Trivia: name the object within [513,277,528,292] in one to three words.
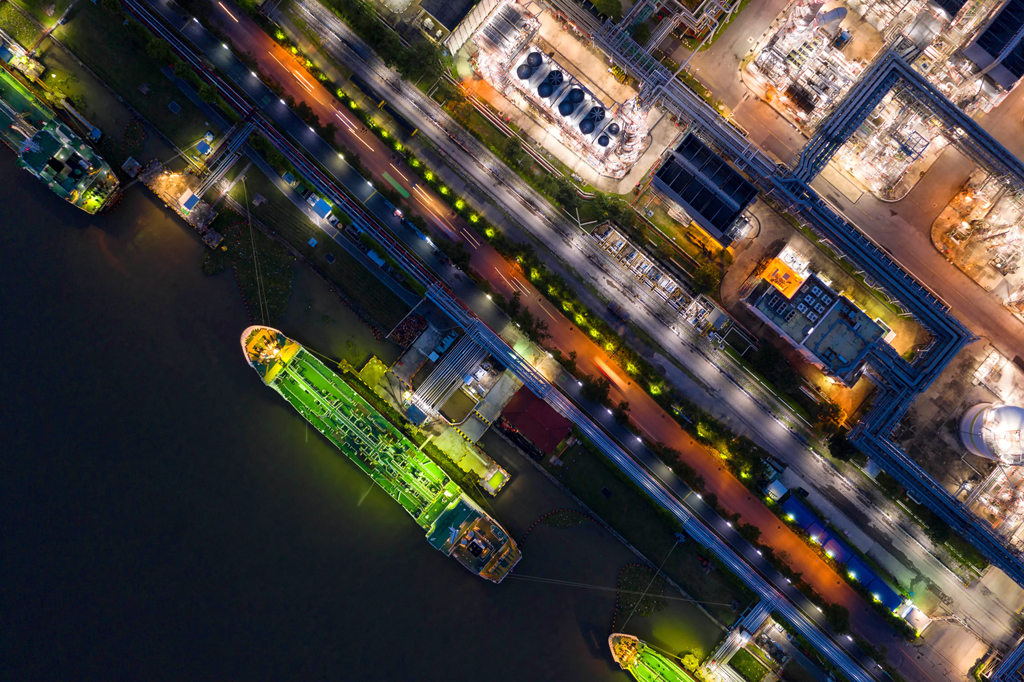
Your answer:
car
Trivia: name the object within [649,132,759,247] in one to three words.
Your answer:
cooling tower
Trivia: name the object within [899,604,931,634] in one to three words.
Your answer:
shed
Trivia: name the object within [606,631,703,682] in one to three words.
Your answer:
ship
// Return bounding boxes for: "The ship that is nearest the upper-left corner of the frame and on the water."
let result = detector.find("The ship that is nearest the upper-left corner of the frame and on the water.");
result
[0,67,130,215]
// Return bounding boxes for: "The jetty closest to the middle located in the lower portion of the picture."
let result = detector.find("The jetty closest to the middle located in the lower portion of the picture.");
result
[359,323,530,496]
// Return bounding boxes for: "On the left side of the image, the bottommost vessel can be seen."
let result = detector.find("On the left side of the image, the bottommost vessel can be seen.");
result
[238,323,523,583]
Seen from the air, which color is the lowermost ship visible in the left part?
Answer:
green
